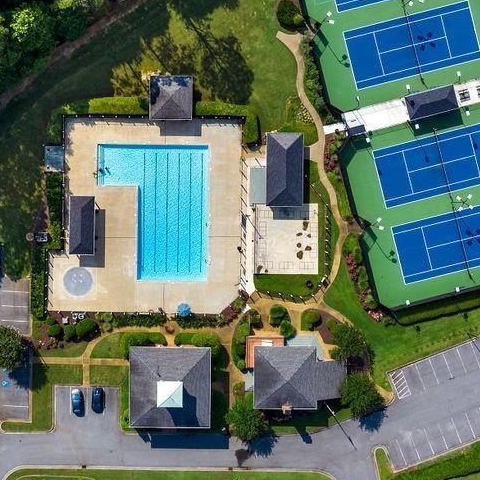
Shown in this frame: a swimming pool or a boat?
swimming pool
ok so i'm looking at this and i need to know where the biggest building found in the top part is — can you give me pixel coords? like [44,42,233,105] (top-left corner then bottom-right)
[249,132,304,206]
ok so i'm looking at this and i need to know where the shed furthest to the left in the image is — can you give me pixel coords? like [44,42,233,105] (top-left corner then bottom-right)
[44,146,66,173]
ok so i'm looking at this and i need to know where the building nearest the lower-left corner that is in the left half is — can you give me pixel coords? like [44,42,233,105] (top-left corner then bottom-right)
[129,346,212,430]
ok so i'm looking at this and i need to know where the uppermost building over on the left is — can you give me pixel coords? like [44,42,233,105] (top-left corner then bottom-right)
[149,76,193,120]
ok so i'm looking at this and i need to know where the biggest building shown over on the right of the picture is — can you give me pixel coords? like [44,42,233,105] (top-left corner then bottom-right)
[245,330,347,415]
